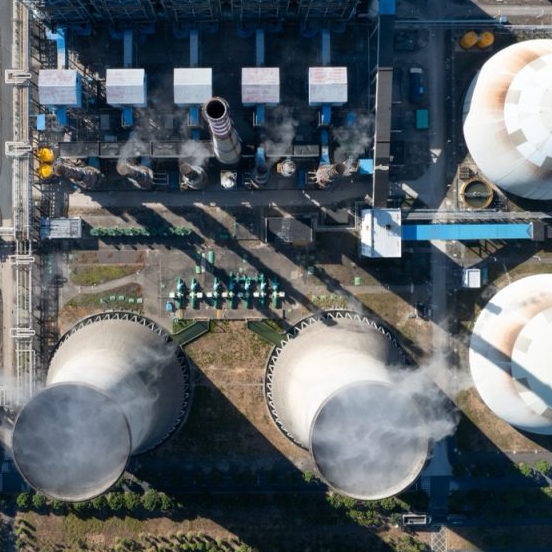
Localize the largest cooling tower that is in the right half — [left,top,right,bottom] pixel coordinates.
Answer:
[265,310,427,499]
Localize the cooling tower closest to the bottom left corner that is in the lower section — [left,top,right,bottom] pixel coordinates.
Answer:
[10,311,191,501]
